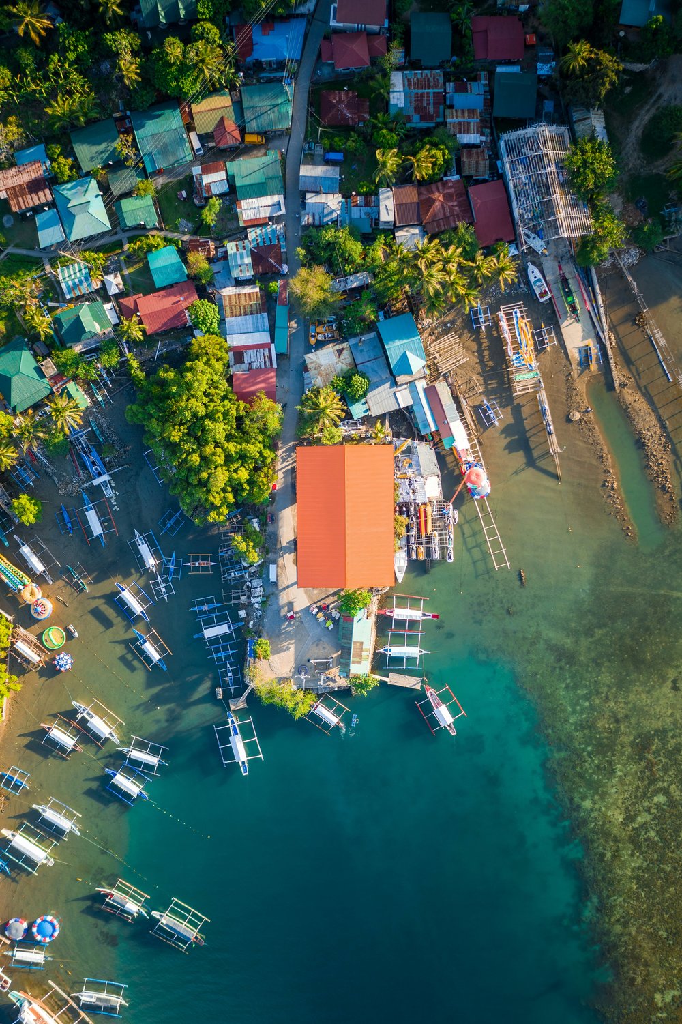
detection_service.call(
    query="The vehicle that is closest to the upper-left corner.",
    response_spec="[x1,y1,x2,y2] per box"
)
[190,133,205,158]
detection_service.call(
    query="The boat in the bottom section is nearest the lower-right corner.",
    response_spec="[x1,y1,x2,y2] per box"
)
[416,684,467,737]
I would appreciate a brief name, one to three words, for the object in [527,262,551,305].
boat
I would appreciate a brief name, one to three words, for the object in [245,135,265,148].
vehicle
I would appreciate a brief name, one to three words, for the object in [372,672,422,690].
pier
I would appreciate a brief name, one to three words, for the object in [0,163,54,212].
house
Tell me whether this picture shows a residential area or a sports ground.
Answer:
residential area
